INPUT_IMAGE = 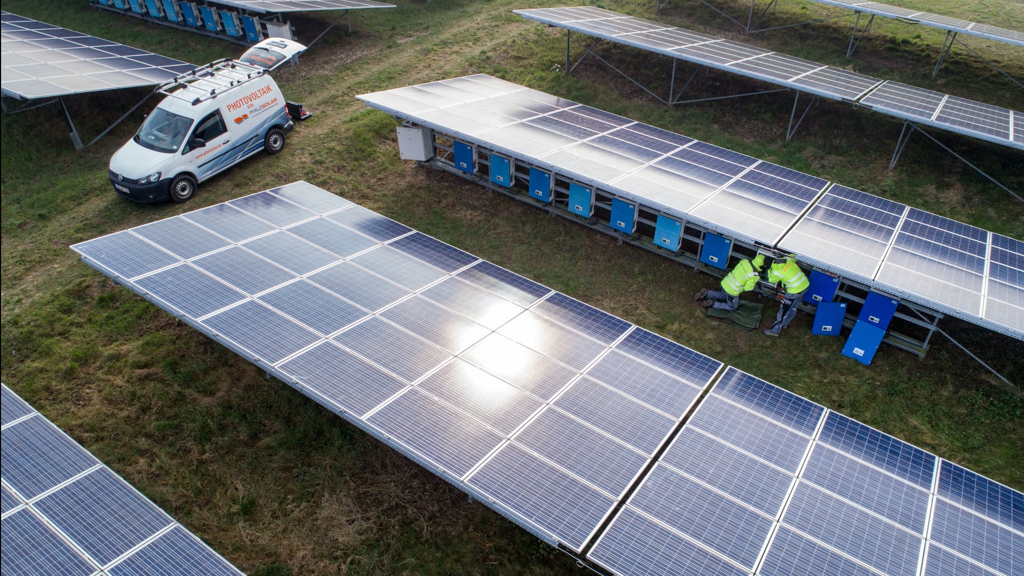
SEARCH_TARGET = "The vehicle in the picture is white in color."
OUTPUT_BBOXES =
[108,38,308,208]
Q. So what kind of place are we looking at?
solar farm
